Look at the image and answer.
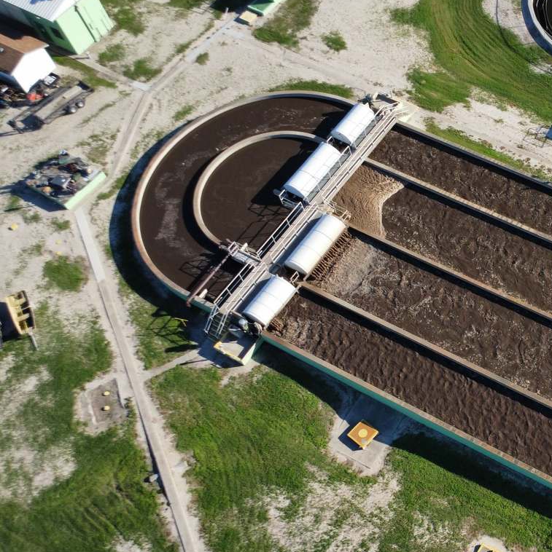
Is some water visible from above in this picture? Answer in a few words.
Yes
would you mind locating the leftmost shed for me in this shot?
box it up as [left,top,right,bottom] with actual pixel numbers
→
[0,25,56,91]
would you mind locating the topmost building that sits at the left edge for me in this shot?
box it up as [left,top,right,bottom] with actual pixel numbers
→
[0,0,114,54]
